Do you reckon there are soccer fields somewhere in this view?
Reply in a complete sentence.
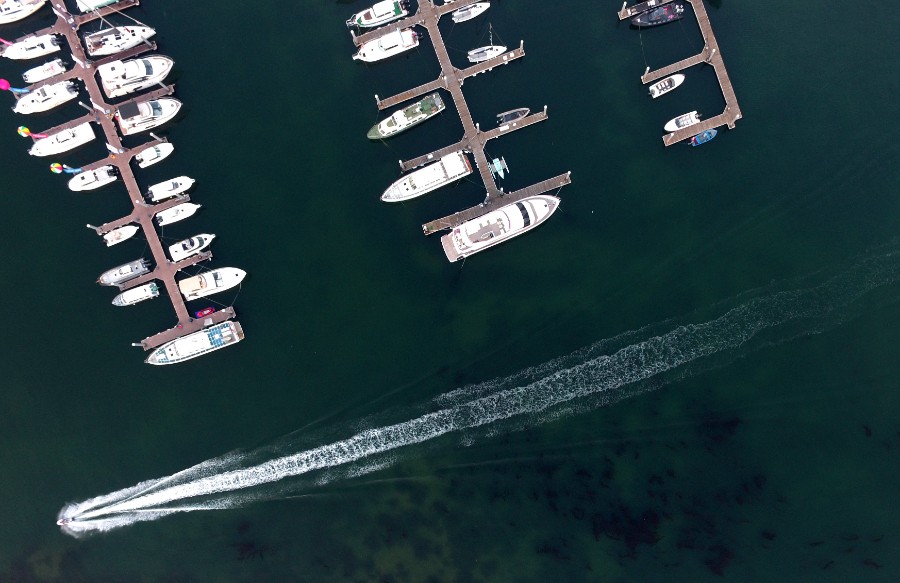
No, I can see no soccer field in this picture.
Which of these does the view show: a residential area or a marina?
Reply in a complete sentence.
The area seen from above is a marina.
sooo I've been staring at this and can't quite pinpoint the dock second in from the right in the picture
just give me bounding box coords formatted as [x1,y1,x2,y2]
[353,0,573,235]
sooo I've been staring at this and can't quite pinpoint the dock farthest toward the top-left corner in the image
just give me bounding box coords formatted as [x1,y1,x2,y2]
[0,0,236,350]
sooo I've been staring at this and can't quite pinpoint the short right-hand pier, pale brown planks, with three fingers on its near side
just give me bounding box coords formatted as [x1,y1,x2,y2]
[618,0,744,146]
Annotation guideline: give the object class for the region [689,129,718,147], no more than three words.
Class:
boat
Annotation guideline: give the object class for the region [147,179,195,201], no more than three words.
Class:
boat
